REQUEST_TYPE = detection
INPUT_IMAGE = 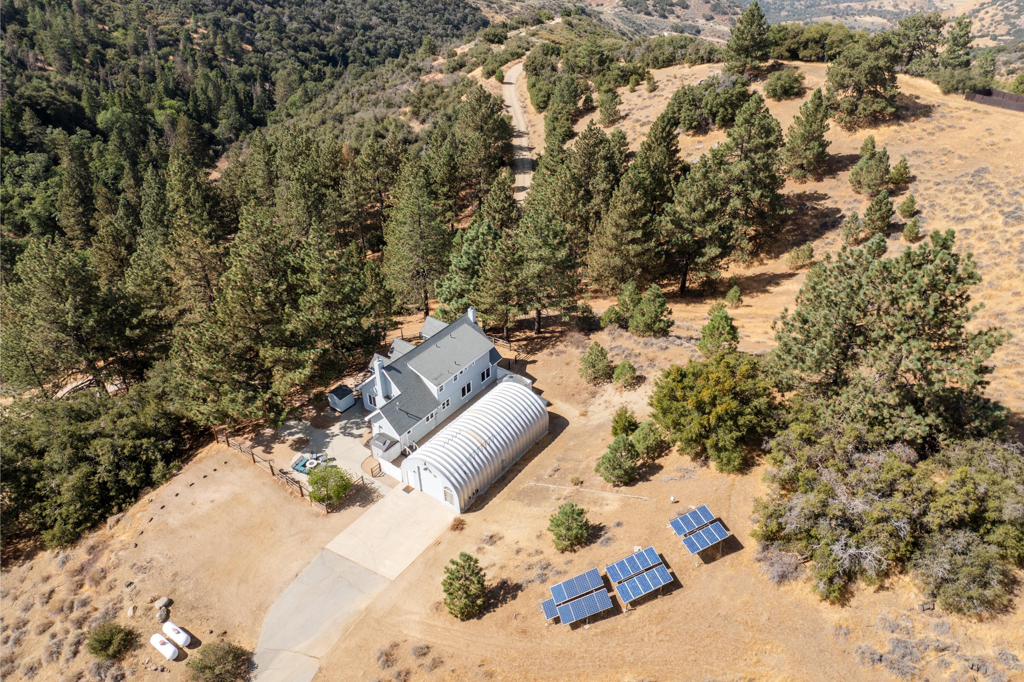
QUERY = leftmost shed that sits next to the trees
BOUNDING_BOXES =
[326,384,355,412]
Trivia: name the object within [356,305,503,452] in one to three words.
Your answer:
house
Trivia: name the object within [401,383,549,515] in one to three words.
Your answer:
hangar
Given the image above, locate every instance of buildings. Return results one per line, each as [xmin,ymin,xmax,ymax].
[401,383,549,515]
[356,305,503,452]
[326,384,355,412]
